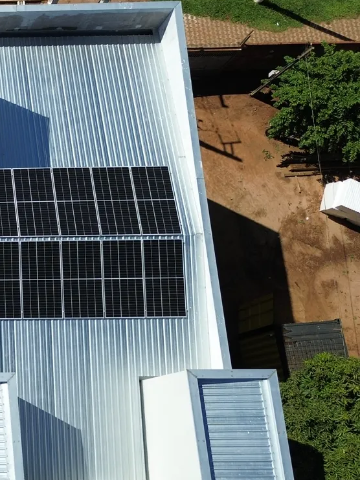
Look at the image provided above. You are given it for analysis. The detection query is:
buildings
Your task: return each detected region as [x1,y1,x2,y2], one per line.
[0,2,293,480]
[312,180,360,230]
